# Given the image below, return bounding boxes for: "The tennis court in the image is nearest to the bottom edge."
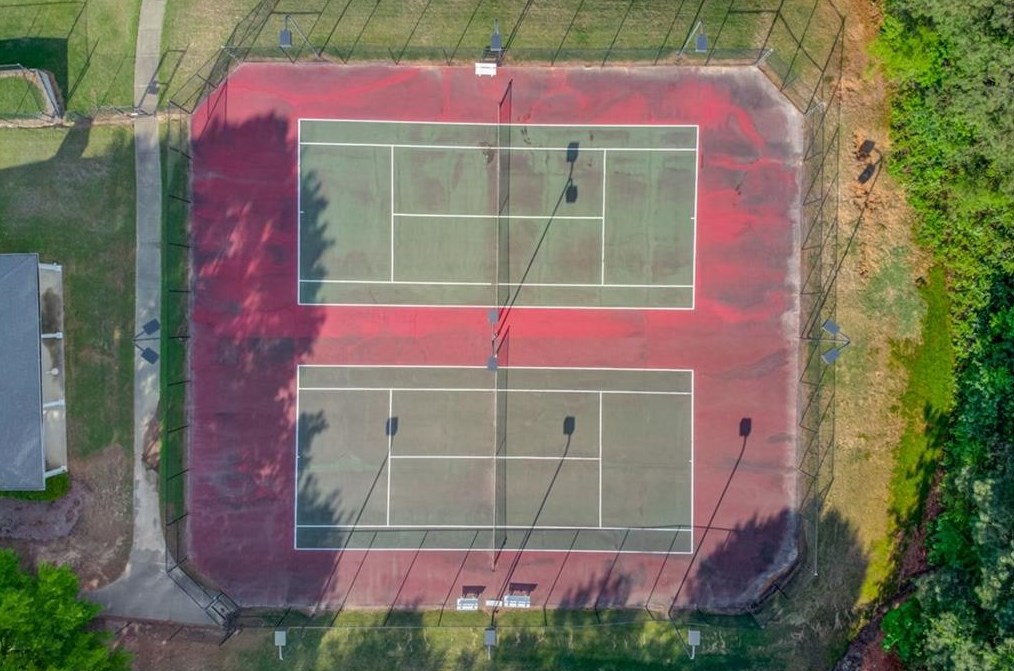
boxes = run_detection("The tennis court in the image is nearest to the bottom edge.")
[294,365,694,554]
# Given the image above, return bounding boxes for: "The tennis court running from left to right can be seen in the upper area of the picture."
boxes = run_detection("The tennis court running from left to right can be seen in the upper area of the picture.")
[298,119,699,310]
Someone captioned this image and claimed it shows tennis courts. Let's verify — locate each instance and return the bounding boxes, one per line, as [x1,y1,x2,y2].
[298,119,699,310]
[294,365,694,554]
